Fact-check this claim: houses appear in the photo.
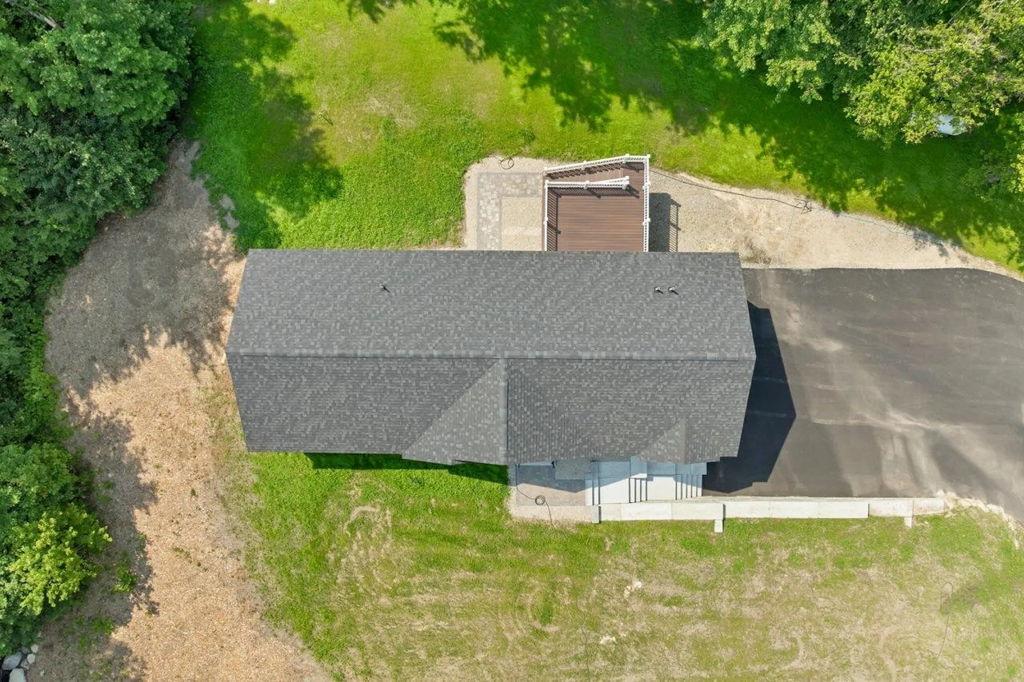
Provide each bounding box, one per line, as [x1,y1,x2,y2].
[226,249,757,465]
